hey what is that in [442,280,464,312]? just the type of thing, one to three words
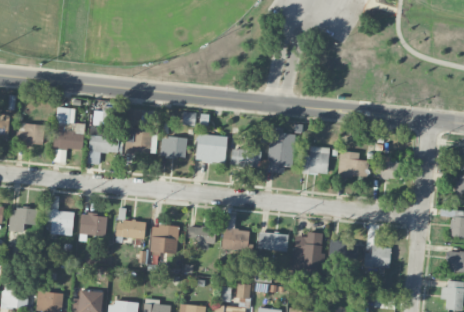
house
